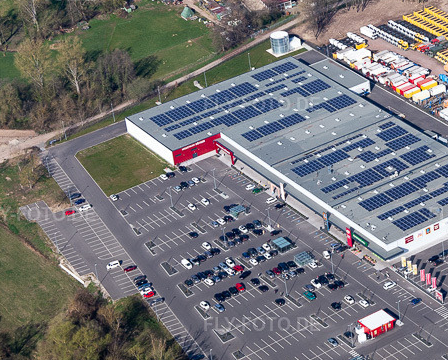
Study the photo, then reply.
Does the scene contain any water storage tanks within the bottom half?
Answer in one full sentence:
No, I can find no water storage tank within the bottom half.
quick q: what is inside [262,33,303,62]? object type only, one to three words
water tank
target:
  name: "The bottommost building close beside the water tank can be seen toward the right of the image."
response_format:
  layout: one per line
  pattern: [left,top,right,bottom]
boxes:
[125,57,448,263]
